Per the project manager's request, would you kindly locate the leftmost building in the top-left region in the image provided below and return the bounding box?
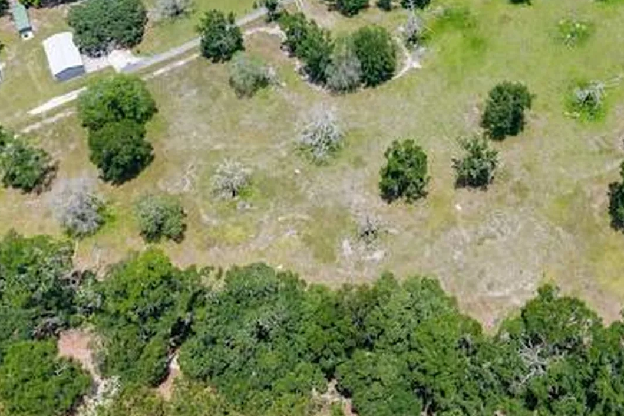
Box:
[11,0,38,45]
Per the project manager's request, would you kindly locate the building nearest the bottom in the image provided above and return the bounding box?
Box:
[45,30,85,82]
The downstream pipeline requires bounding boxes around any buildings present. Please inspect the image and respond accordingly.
[45,30,85,82]
[11,0,38,45]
